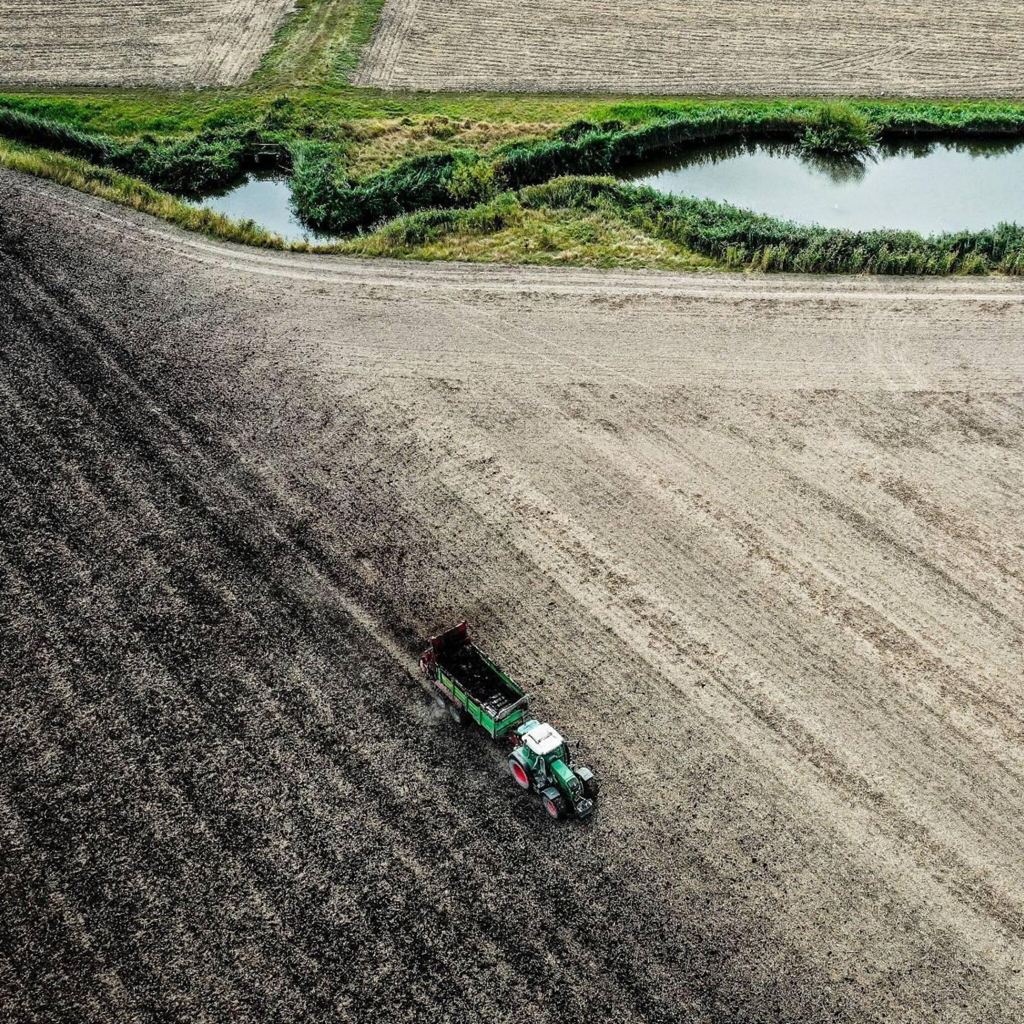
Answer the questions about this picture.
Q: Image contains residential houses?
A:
No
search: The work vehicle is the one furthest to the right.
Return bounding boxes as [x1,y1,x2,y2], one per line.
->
[506,717,596,820]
